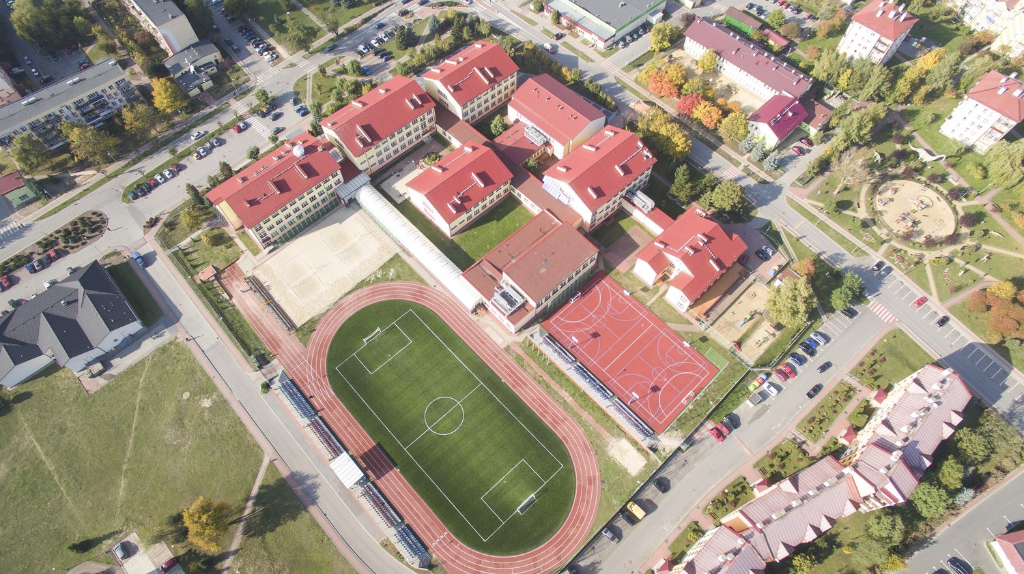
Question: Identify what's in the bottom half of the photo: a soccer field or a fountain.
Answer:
soccer field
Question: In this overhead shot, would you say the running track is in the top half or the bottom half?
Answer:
bottom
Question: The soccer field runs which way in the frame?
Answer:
at an angle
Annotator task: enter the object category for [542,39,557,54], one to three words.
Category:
vehicle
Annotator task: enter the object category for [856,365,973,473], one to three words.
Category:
house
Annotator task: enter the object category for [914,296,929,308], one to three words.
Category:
vehicle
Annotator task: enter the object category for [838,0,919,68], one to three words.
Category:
building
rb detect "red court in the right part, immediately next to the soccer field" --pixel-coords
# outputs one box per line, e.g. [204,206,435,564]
[540,269,721,436]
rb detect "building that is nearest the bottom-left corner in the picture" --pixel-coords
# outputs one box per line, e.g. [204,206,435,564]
[0,260,144,386]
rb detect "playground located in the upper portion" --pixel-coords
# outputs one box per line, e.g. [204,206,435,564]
[875,178,958,242]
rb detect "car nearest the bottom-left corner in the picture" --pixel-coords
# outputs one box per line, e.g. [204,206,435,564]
[111,542,129,561]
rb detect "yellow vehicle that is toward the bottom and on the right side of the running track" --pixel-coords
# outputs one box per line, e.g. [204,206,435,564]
[626,501,648,522]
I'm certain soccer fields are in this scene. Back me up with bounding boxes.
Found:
[329,302,573,553]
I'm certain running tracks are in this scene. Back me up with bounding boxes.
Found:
[210,261,600,574]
